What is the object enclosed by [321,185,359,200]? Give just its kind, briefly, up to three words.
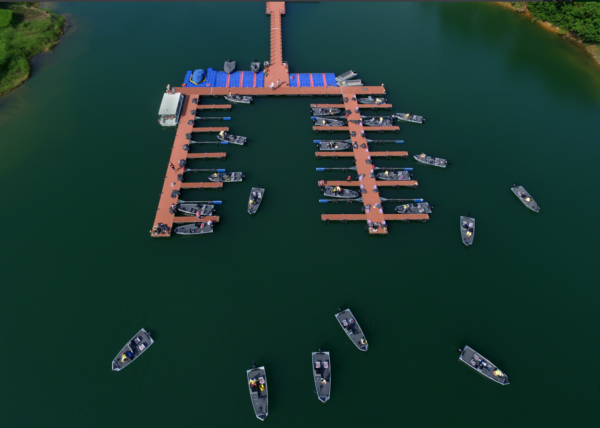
boat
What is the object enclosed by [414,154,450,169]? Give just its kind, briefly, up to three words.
boat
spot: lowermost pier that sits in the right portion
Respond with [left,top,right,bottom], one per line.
[311,94,428,235]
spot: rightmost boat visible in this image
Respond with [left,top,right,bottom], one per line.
[510,184,540,212]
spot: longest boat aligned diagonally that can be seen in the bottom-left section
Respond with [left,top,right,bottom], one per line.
[111,329,156,372]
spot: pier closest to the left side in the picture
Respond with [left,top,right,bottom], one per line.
[151,94,232,237]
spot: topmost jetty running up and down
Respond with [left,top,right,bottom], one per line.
[264,0,288,87]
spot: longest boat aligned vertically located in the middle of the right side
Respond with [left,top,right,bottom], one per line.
[459,213,475,246]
